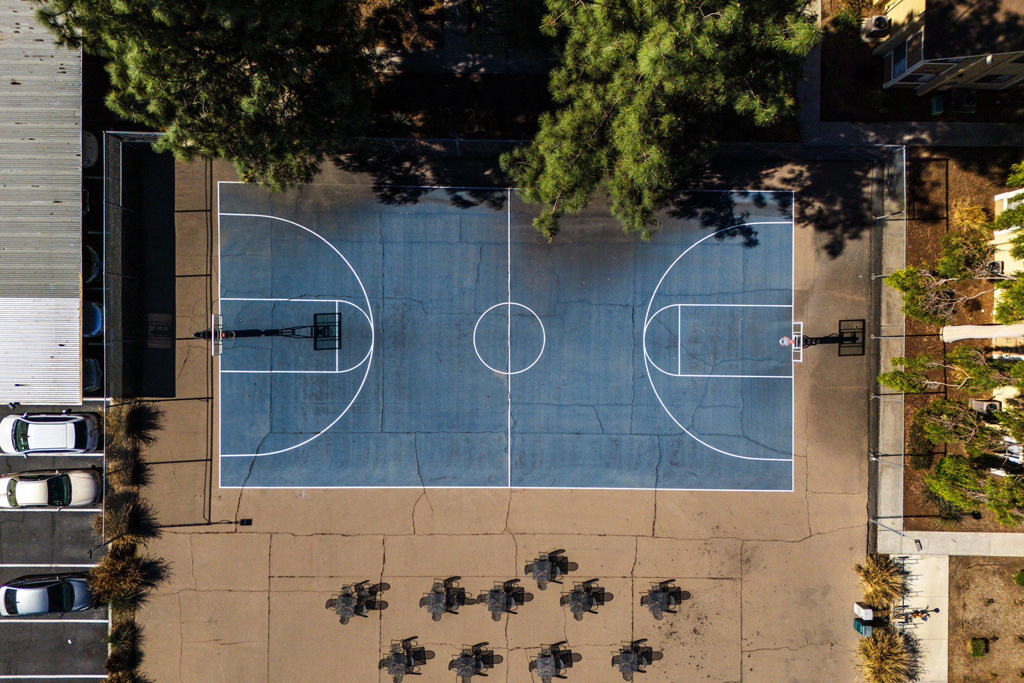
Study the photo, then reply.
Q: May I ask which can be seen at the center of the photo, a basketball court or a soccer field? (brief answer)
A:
basketball court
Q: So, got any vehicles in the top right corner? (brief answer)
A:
No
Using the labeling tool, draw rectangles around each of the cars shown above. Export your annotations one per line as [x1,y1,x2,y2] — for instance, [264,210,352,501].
[0,409,103,458]
[84,356,108,394]
[1,570,105,619]
[83,131,104,173]
[0,467,103,514]
[82,246,108,285]
[80,301,109,339]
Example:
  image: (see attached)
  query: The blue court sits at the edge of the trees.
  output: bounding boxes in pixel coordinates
[218,181,794,491]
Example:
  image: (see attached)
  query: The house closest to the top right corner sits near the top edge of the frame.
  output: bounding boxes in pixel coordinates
[874,0,1024,96]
